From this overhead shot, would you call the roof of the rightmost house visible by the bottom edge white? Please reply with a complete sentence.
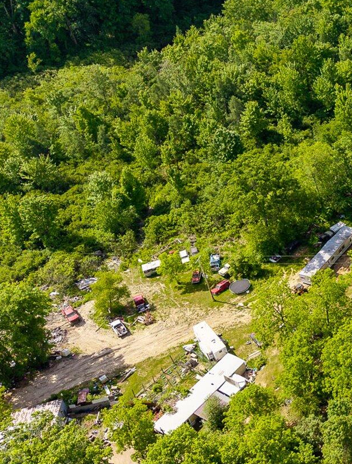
Yes, white is the color of the roof of the rightmost house visible by the bottom edge.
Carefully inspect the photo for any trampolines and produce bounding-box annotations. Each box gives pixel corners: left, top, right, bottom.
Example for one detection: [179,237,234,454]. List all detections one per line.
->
[228,279,251,295]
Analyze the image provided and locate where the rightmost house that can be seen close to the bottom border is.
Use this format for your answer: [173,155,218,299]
[153,352,250,445]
